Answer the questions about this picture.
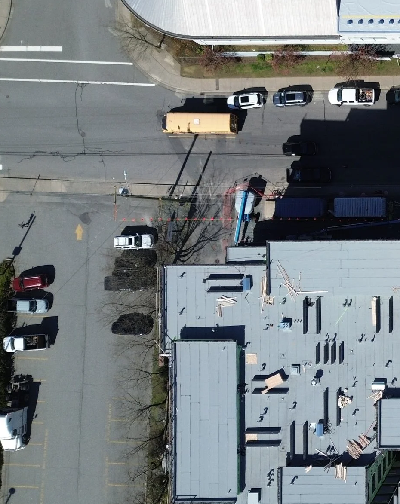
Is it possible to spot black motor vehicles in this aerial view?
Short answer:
Yes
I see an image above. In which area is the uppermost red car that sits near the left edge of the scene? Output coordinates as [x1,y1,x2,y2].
[14,273,49,292]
